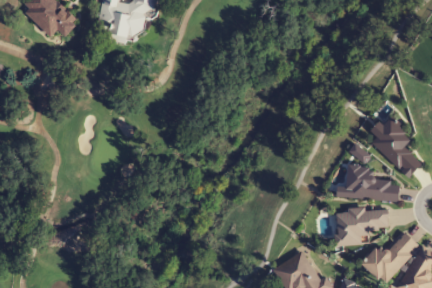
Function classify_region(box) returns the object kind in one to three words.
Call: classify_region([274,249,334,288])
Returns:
house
